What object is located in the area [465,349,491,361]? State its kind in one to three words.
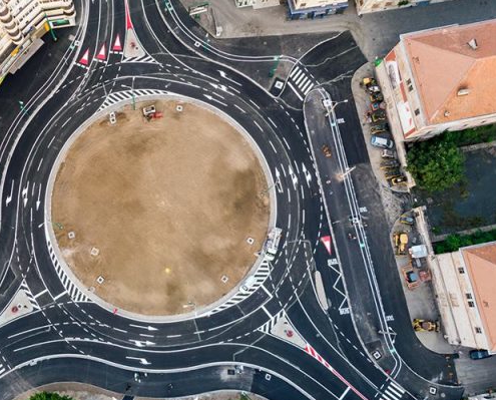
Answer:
vehicle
